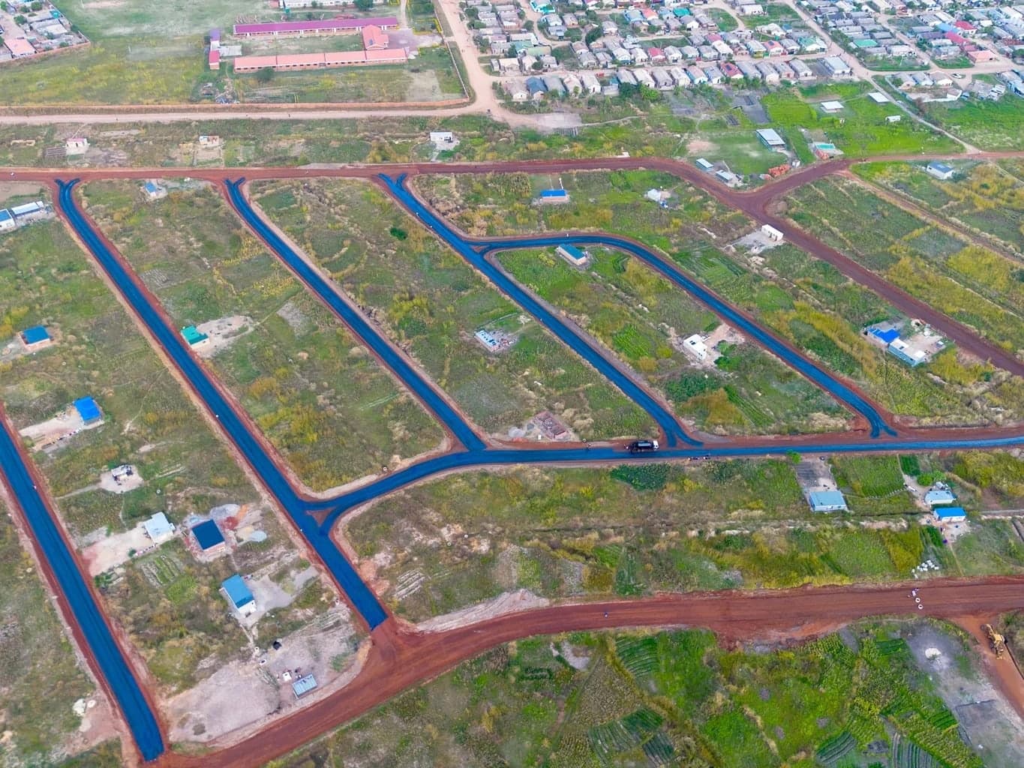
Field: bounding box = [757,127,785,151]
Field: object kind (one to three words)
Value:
barn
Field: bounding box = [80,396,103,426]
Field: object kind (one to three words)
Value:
house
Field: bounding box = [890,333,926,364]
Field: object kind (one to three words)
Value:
house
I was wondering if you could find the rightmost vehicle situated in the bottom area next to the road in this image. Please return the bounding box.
[983,622,1008,662]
